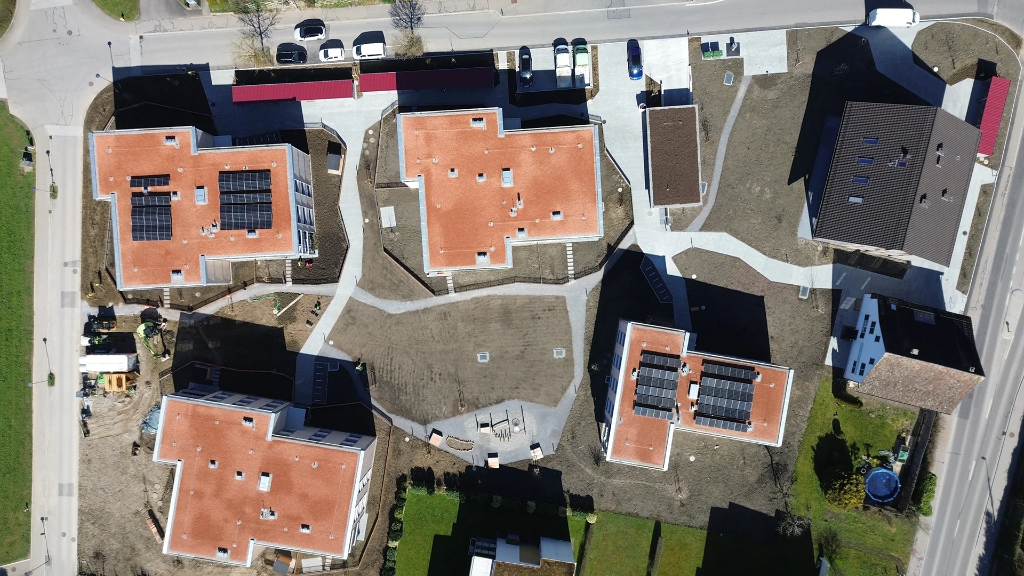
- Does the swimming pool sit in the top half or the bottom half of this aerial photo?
bottom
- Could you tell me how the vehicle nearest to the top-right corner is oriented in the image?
horizontally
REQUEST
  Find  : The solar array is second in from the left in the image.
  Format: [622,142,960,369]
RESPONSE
[218,171,272,230]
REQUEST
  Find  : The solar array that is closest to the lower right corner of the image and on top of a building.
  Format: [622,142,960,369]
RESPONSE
[694,363,757,432]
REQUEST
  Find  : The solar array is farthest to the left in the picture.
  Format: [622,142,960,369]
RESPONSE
[130,176,172,241]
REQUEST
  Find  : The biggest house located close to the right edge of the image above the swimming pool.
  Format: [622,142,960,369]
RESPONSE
[794,100,983,268]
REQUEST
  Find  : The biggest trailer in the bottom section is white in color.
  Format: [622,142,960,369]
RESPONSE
[83,353,136,372]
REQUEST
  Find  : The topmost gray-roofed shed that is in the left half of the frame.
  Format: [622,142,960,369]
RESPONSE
[326,154,344,175]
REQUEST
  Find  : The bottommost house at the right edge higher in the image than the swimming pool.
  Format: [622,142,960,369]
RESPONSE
[844,295,986,415]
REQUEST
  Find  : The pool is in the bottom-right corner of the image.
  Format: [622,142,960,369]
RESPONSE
[870,469,904,504]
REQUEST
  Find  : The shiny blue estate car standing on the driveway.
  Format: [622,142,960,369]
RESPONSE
[628,48,644,81]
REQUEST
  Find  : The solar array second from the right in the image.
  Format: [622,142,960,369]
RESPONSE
[633,354,681,421]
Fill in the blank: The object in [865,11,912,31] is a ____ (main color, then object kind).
white vehicle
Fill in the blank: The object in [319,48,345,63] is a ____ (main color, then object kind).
white car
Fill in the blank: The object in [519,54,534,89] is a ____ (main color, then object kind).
black car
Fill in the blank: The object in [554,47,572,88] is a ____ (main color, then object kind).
white vehicle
